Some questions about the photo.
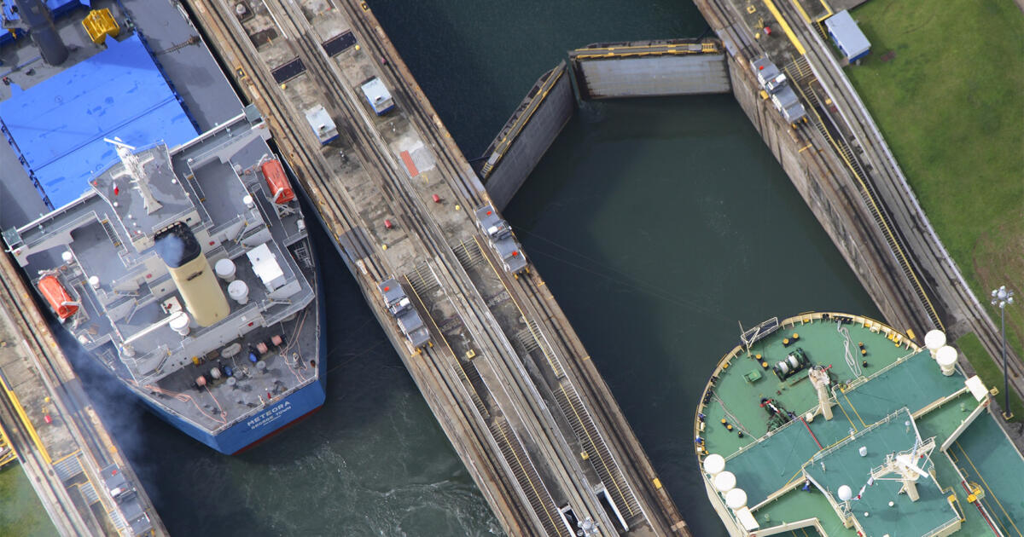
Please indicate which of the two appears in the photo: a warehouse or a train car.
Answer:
train car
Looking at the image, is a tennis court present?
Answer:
No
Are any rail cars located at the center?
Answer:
Yes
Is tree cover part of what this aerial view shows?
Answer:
No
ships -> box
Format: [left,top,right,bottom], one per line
[693,313,1024,537]
[0,0,326,457]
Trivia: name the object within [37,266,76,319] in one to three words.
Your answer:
boat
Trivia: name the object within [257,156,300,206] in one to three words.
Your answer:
boat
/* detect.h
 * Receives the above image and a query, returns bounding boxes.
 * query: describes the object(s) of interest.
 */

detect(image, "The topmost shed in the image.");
[823,9,872,68]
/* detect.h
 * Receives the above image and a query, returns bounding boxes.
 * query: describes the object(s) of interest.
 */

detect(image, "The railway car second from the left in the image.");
[378,276,432,351]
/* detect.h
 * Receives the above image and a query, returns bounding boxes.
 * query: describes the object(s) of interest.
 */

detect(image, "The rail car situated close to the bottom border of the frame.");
[97,464,150,537]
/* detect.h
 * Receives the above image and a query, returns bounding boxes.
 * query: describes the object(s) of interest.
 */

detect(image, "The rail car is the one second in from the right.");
[475,201,528,274]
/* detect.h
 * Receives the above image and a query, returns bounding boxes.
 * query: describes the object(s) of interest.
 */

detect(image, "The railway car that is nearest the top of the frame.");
[752,52,806,124]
